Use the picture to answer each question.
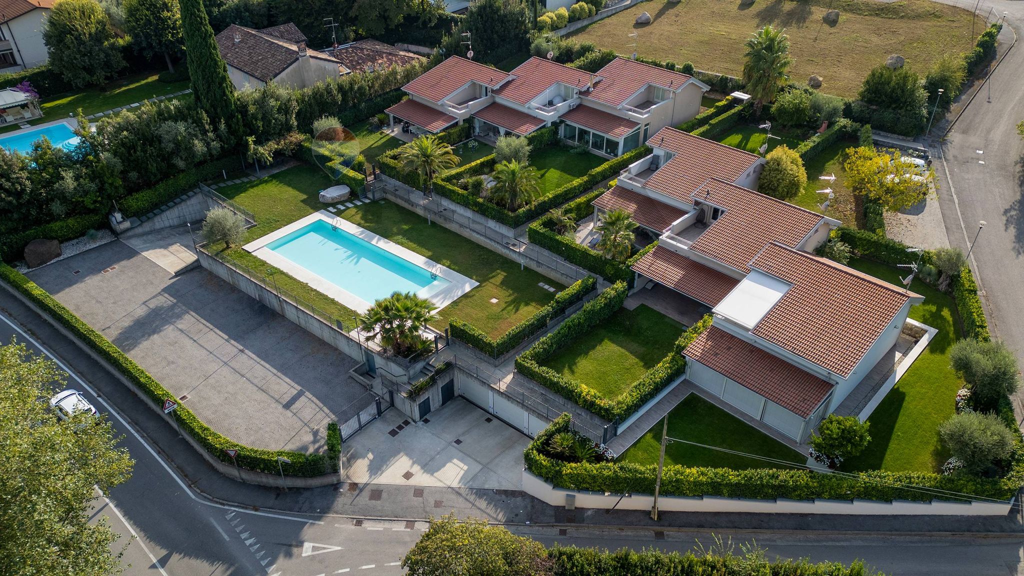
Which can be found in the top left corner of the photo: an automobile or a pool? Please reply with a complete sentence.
Visible in the top left corner of the photo is a pool.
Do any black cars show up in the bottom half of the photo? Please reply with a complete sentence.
No, no black car appears in the bottom half of the photo.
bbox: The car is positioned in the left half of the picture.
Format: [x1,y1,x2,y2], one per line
[55,393,100,430]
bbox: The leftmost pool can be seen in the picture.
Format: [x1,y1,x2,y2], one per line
[0,117,96,161]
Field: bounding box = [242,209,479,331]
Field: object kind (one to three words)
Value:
swimming pool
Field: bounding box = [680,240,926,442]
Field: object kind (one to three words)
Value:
house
